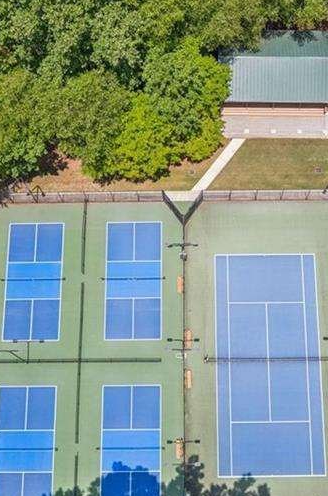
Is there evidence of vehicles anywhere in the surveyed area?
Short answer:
No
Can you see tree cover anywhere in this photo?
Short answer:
Yes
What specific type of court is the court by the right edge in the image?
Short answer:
tennis court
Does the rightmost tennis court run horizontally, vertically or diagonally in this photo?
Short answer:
vertically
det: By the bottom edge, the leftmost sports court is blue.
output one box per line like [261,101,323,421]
[0,386,56,496]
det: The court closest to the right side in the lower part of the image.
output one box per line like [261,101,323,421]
[216,254,326,477]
